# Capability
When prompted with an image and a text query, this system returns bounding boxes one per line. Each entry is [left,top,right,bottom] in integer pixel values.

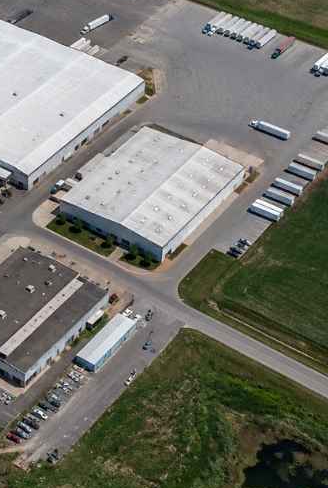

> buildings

[52,125,247,259]
[73,310,138,374]
[0,244,109,386]
[0,19,146,191]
